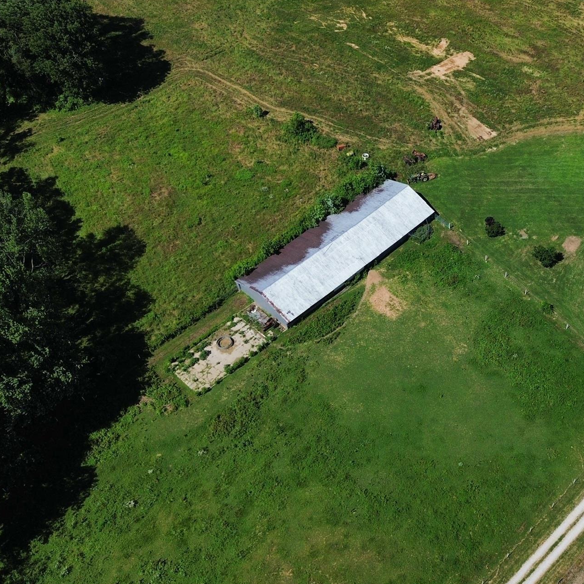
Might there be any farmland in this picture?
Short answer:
Yes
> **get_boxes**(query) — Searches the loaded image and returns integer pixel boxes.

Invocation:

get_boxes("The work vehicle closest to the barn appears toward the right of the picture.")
[407,169,427,184]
